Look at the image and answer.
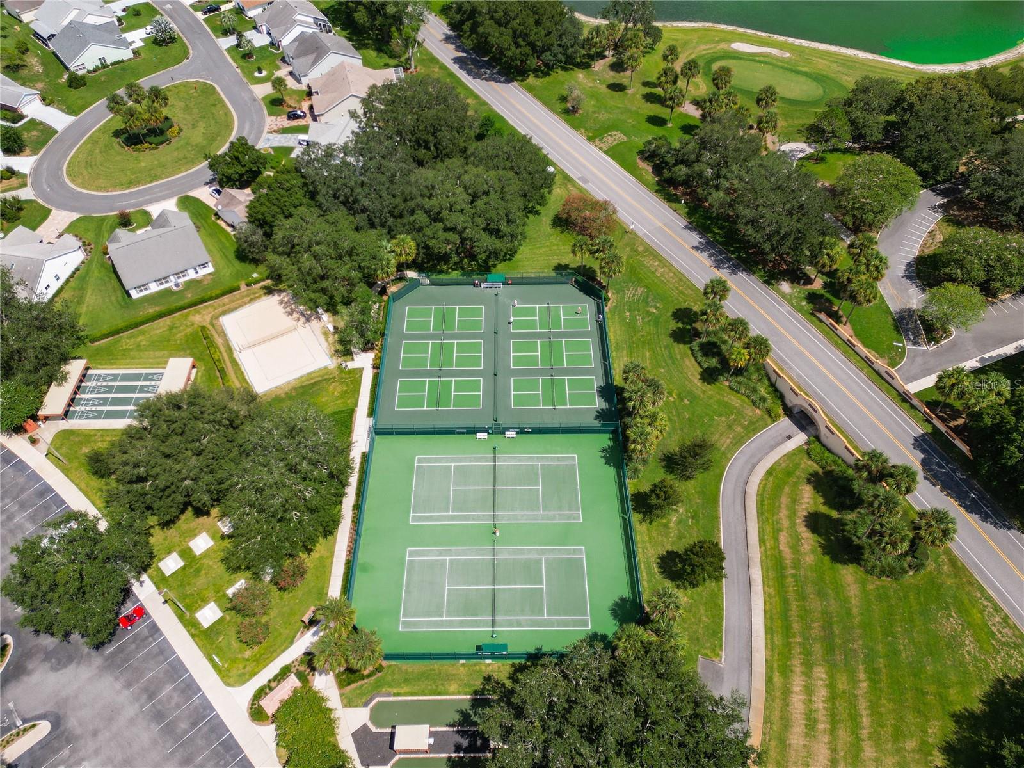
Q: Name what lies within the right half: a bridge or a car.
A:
bridge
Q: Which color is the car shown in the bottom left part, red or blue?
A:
red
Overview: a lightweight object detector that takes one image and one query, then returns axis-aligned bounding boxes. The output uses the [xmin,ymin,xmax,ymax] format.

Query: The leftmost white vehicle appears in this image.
[141,22,157,34]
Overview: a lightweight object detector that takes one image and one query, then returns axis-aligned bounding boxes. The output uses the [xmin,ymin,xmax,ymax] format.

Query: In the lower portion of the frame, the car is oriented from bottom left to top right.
[114,604,148,630]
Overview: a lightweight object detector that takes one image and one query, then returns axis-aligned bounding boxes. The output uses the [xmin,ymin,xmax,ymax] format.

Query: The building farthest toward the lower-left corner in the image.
[259,674,303,720]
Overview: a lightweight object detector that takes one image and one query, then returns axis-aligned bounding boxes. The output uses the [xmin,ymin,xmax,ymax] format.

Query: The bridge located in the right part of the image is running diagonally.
[759,354,868,473]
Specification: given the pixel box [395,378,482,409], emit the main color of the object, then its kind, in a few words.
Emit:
green sports court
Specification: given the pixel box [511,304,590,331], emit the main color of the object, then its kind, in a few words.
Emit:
green sports court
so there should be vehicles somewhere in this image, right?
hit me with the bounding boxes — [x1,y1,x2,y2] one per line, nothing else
[298,134,309,145]
[114,604,148,630]
[200,4,221,14]
[206,184,223,197]
[141,22,157,34]
[285,109,306,119]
